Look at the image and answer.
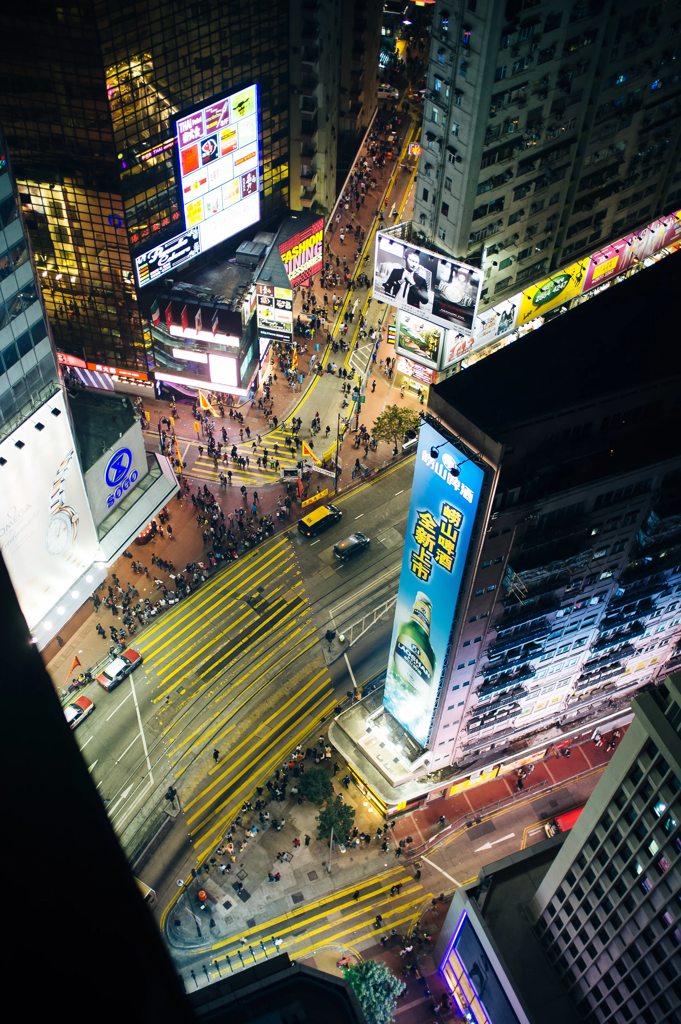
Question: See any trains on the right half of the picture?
No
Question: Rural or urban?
urban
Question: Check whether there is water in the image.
No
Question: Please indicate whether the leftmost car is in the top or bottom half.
bottom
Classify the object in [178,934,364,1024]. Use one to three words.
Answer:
building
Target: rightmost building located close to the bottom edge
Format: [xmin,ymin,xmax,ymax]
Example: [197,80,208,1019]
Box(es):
[433,664,681,1024]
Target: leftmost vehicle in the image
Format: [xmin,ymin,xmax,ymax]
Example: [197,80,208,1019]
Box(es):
[69,693,101,727]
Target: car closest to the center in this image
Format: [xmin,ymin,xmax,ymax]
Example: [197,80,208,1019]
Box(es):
[333,532,371,561]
